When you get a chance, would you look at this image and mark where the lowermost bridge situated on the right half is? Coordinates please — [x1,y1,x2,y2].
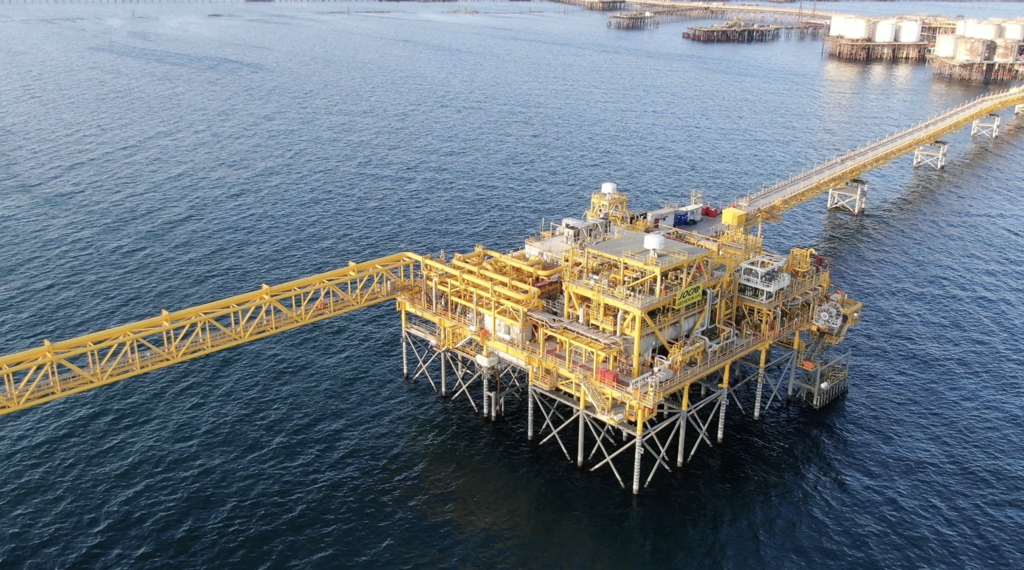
[729,85,1024,216]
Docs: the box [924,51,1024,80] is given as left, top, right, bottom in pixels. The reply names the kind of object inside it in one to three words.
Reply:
pier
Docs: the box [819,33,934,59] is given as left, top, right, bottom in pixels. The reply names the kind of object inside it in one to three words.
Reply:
pier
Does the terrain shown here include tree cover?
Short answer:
No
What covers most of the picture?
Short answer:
water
